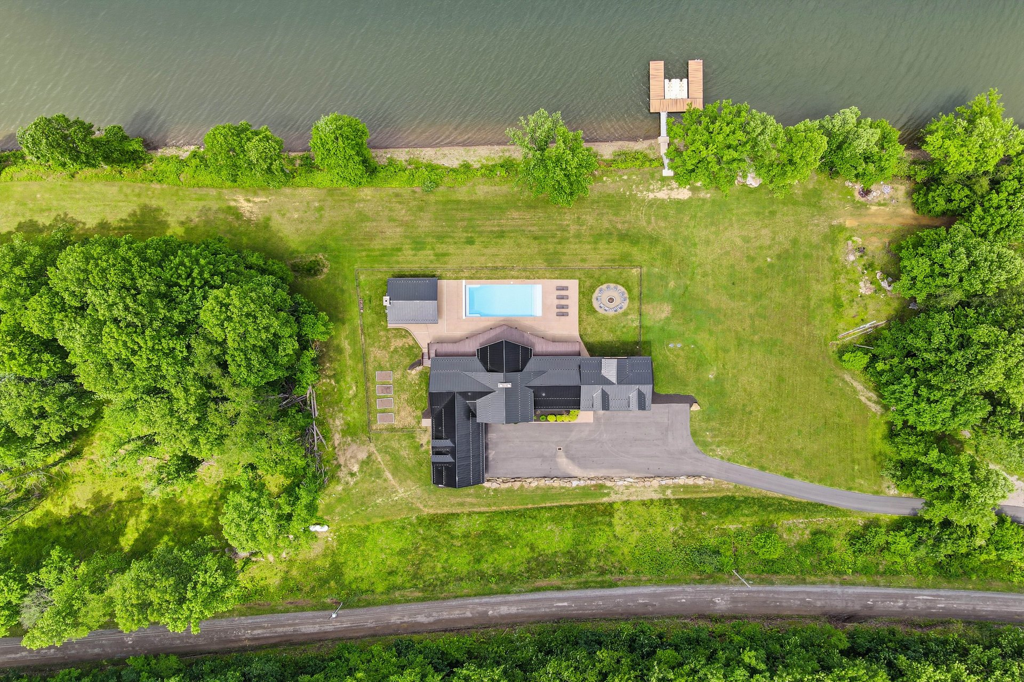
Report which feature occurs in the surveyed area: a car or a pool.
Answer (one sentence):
The image shows a pool.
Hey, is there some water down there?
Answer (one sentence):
Yes, water can be seen from above here.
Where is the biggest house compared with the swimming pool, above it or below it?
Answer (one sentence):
It's below the swimming pool that the biggest house shows up.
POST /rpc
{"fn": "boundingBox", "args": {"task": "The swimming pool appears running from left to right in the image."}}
[462,280,542,319]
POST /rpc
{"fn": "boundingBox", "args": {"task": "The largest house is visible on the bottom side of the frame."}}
[429,339,653,490]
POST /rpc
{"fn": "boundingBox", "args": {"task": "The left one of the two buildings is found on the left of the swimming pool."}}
[383,278,438,324]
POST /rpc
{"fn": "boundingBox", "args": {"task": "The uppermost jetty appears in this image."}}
[649,57,703,113]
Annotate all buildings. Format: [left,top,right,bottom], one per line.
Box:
[383,278,438,324]
[429,339,653,490]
